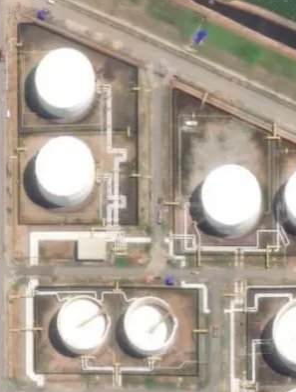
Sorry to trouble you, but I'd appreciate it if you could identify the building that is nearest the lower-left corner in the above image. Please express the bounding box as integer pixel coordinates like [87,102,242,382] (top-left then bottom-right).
[78,240,106,262]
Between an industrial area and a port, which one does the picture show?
industrial area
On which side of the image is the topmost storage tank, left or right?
left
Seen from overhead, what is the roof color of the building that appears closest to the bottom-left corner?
white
